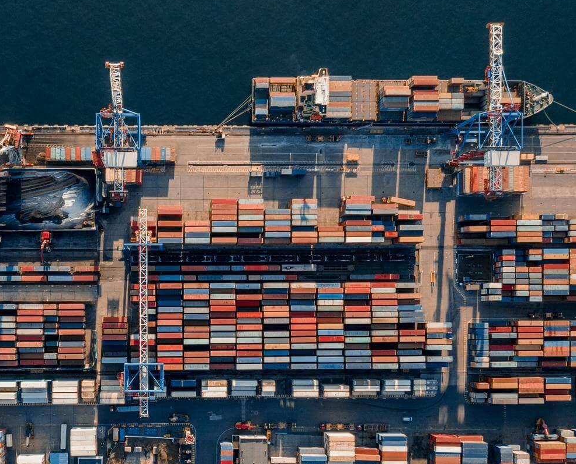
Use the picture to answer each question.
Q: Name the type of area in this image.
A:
port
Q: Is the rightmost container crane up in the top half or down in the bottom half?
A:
top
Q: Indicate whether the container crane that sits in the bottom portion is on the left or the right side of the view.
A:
left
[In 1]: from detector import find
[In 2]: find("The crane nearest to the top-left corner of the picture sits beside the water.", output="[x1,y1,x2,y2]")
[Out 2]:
[0,119,42,169]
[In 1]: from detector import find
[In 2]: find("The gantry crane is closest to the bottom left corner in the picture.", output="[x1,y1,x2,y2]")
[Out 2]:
[119,209,171,417]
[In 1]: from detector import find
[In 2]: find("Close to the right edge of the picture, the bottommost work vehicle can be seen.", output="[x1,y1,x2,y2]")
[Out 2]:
[534,417,548,433]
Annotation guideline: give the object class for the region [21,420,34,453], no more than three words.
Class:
vehicle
